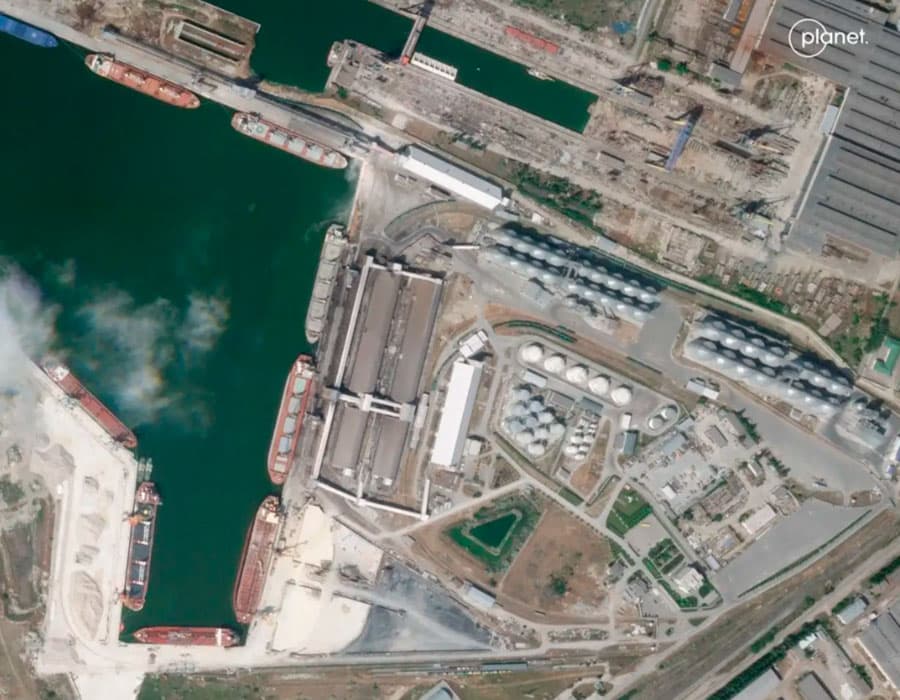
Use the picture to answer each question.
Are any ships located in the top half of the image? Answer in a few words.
Yes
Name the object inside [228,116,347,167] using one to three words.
ship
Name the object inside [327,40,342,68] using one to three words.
ship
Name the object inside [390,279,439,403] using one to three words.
shed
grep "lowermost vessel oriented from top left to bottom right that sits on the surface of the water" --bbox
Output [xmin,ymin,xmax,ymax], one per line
[43,358,134,446]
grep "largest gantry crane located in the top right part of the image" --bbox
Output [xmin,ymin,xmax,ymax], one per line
[654,120,692,172]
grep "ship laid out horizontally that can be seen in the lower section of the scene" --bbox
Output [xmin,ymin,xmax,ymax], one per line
[134,629,241,648]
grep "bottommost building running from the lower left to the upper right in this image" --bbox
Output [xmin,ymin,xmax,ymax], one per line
[732,667,783,700]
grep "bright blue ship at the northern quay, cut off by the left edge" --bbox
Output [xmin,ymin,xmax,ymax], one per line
[0,13,58,46]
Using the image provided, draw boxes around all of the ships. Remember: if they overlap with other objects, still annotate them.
[43,358,134,446]
[0,13,58,46]
[306,223,347,344]
[134,629,241,648]
[228,116,347,167]
[82,55,200,107]
[273,354,315,485]
[327,40,342,68]
[237,493,285,622]
[127,482,161,611]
